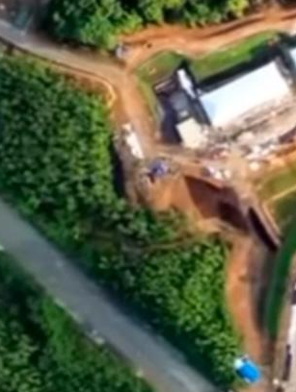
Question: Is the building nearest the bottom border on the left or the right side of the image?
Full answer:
The building nearest the bottom border appears in the right half of the scene.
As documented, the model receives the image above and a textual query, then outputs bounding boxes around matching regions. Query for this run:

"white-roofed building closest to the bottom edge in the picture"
[178,117,207,149]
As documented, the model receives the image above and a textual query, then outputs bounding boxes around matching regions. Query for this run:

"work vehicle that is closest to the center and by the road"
[142,163,165,177]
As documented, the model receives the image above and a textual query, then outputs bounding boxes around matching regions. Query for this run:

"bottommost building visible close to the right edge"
[200,61,292,128]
